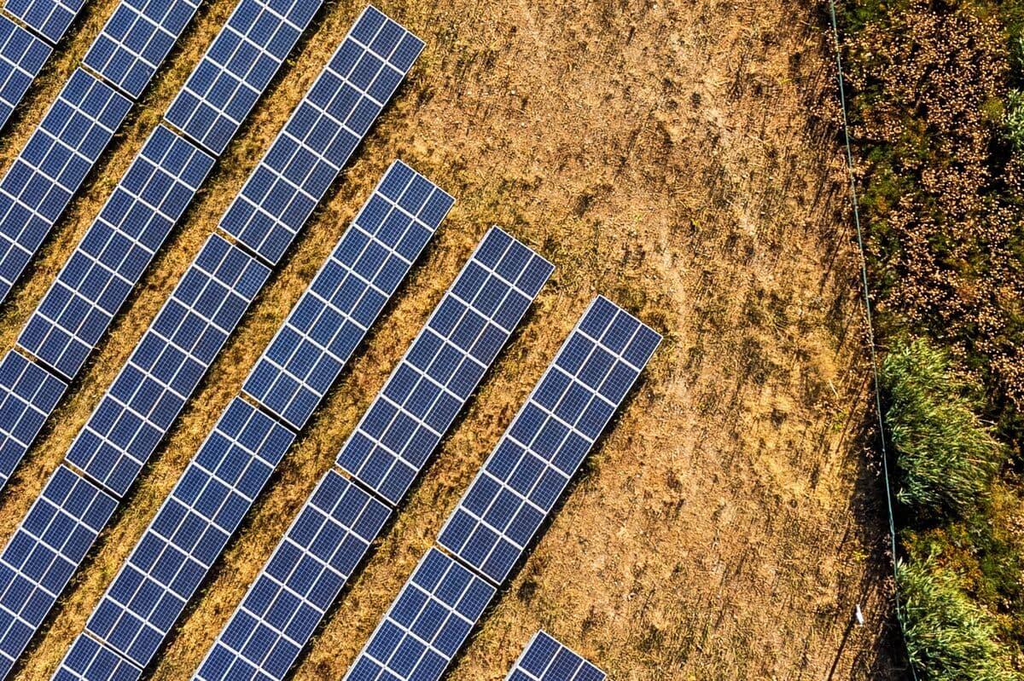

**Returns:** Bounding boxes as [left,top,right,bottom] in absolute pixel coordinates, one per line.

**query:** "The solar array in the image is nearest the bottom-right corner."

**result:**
[503,627,606,681]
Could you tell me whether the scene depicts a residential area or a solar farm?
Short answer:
solar farm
